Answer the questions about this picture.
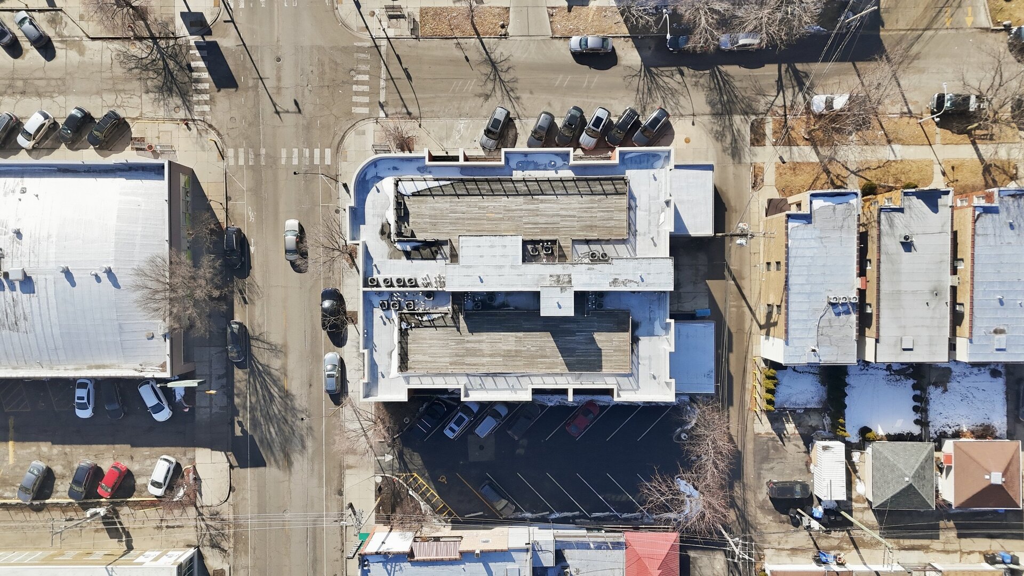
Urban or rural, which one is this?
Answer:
urban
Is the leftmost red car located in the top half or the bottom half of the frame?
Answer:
bottom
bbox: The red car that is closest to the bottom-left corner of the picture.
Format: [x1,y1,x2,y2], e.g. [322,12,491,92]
[100,460,129,498]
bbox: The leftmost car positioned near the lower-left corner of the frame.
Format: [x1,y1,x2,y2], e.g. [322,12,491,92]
[19,458,50,502]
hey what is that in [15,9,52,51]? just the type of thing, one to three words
car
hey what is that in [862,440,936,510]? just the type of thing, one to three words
building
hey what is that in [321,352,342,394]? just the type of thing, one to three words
car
